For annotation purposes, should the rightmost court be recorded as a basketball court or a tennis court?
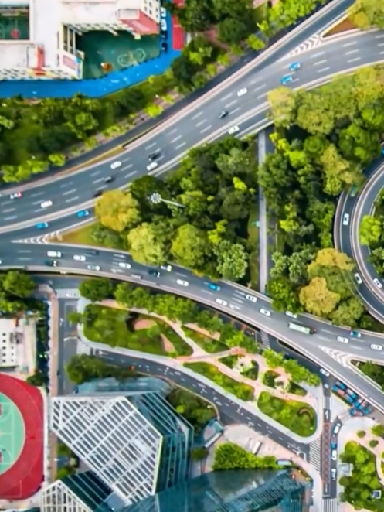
basketball court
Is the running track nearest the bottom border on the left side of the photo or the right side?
left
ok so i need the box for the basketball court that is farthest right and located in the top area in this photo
[81,28,159,79]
